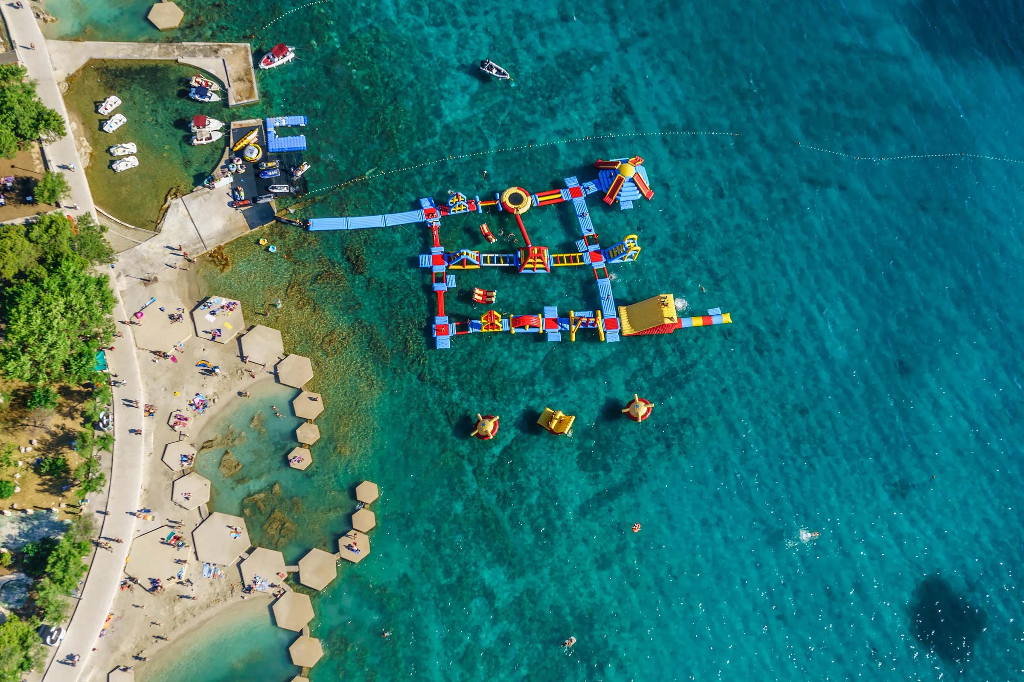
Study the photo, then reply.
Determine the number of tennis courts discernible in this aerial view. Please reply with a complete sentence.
Not a single tennis court can be seen.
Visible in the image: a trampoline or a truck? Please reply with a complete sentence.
There is a trampoline in the scene.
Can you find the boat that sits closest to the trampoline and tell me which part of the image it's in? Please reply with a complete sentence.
The boat that sits closest to the trampoline is in the top part of the image.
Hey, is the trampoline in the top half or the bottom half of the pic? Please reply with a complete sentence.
It is in the top half that the trampoline appears.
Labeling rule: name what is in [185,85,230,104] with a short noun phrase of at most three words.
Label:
boat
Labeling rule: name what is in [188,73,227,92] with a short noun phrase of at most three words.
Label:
boat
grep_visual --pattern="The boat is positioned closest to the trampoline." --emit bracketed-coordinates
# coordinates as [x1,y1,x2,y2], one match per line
[476,57,512,79]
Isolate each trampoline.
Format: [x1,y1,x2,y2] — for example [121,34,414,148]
[501,186,532,215]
